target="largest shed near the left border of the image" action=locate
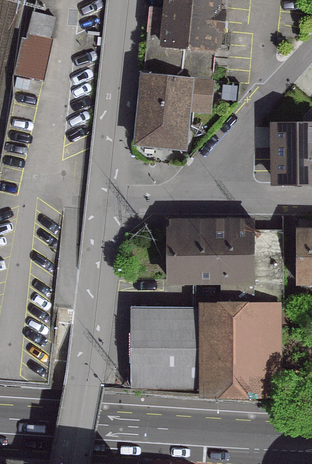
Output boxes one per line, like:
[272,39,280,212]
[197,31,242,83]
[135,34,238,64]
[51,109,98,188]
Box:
[14,36,53,80]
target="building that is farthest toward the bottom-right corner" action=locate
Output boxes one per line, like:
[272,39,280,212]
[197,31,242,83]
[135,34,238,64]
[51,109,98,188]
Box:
[198,302,284,398]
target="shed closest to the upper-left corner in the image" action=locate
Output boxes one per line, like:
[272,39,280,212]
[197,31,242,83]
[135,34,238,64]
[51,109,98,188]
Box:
[28,10,56,38]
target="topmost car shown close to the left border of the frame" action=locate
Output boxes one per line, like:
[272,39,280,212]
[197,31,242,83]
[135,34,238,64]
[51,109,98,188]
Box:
[13,92,38,104]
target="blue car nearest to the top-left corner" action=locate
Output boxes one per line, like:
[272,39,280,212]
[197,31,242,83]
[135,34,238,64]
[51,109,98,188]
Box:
[78,16,100,30]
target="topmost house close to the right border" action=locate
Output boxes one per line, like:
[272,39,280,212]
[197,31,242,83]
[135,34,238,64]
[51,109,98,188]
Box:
[270,120,312,186]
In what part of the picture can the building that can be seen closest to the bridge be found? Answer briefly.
bottom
